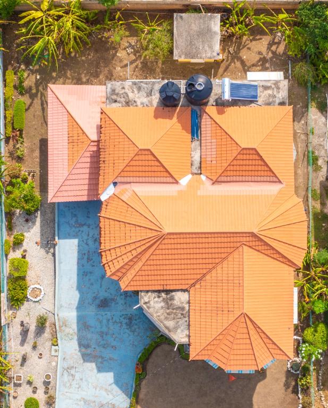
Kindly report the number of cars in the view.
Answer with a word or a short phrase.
none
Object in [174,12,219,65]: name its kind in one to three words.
shed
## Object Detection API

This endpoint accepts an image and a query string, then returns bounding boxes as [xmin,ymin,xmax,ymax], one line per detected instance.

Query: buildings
[48,81,308,373]
[174,12,219,65]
